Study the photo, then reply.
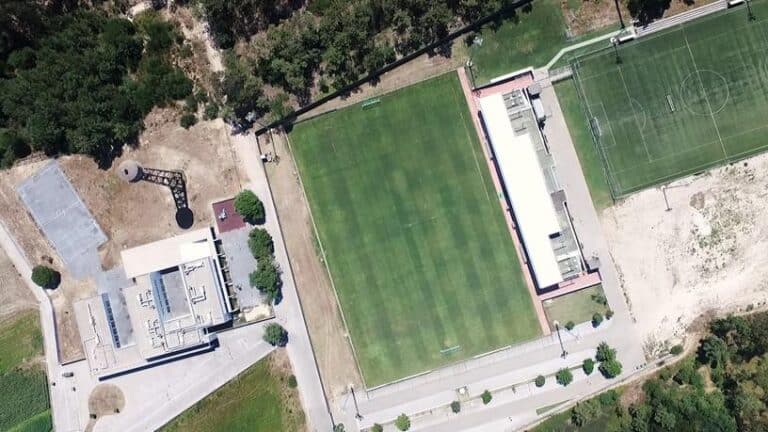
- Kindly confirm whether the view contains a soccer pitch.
Yes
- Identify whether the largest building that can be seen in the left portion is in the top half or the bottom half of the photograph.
bottom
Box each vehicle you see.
[535,99,547,116]
[62,372,73,377]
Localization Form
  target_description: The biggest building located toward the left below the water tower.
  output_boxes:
[73,226,242,377]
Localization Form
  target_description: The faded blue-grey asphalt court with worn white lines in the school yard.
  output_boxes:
[16,160,108,280]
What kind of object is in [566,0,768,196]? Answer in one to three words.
soccer field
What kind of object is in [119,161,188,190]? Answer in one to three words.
water tower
